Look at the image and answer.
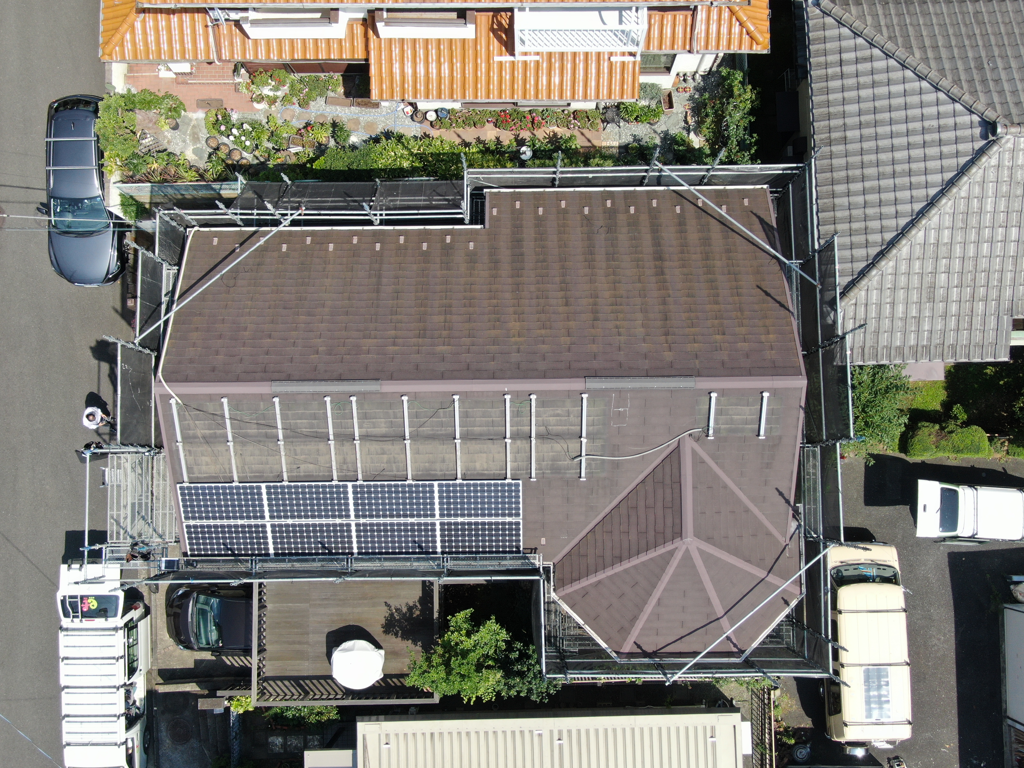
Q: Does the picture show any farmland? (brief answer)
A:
No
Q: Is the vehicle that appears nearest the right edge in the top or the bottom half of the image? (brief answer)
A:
bottom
